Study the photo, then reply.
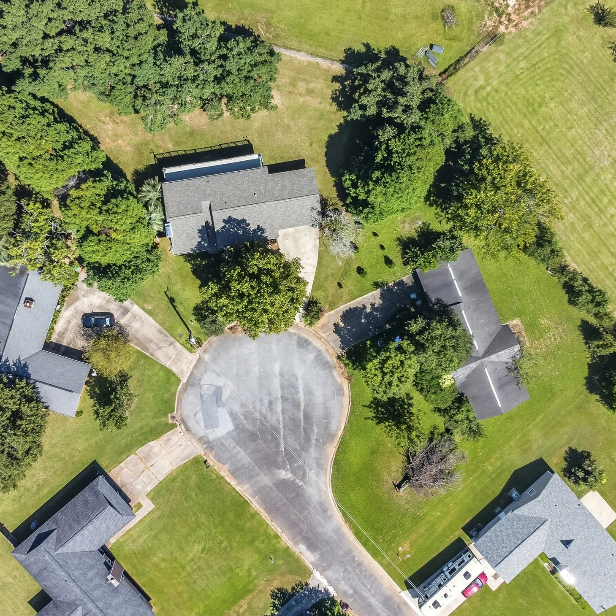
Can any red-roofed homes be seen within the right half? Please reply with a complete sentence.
No, no red-roofed home appears within the right half.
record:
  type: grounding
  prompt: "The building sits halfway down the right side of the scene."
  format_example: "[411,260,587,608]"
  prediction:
[416,248,529,419]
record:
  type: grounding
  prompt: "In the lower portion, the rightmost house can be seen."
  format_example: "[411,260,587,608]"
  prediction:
[474,471,616,614]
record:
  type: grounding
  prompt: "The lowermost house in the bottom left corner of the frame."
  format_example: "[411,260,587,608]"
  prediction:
[11,475,163,616]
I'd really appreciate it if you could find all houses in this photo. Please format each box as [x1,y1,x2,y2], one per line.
[11,475,163,616]
[161,152,319,255]
[416,248,529,419]
[0,259,93,418]
[474,471,616,614]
